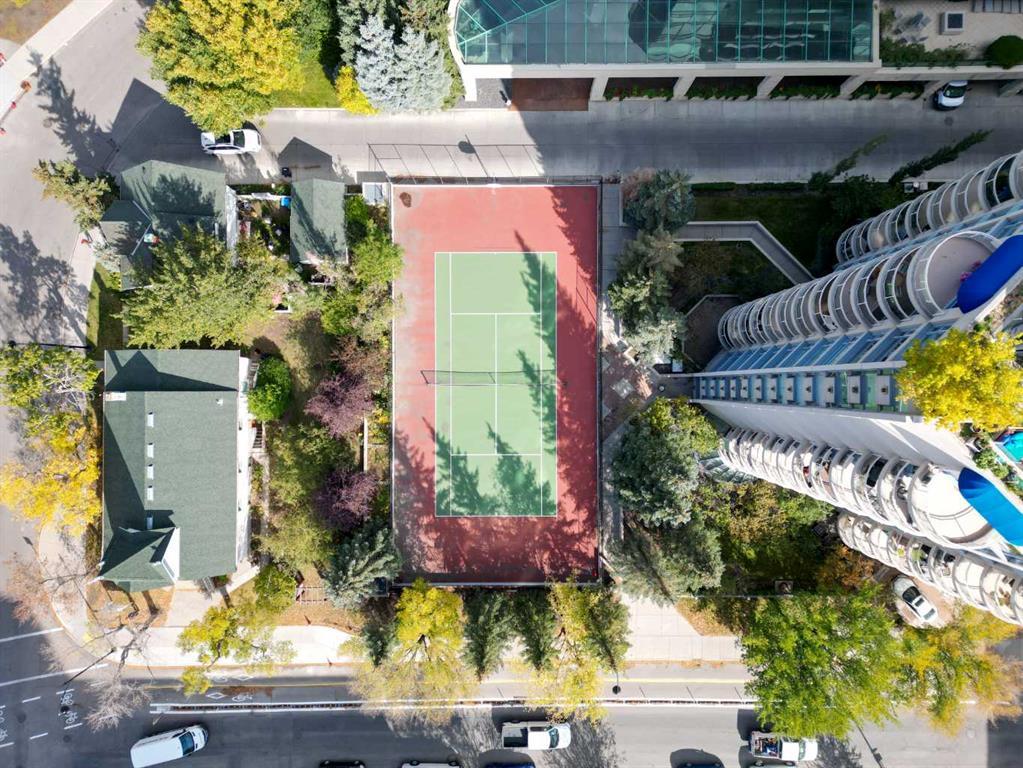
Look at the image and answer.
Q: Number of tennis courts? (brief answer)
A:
1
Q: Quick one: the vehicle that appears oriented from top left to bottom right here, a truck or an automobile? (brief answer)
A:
automobile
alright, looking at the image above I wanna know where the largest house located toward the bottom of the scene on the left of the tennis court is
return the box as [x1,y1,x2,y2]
[87,349,269,589]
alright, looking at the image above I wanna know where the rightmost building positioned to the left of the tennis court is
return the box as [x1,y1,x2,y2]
[290,179,350,265]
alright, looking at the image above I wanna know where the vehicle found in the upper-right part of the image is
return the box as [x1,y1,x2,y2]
[938,79,969,112]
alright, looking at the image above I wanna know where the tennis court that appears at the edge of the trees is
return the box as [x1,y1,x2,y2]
[390,182,603,585]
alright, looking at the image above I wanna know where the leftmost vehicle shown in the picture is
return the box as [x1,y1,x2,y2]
[127,723,211,768]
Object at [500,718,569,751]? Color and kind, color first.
white truck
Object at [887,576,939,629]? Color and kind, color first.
white car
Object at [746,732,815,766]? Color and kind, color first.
white truck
